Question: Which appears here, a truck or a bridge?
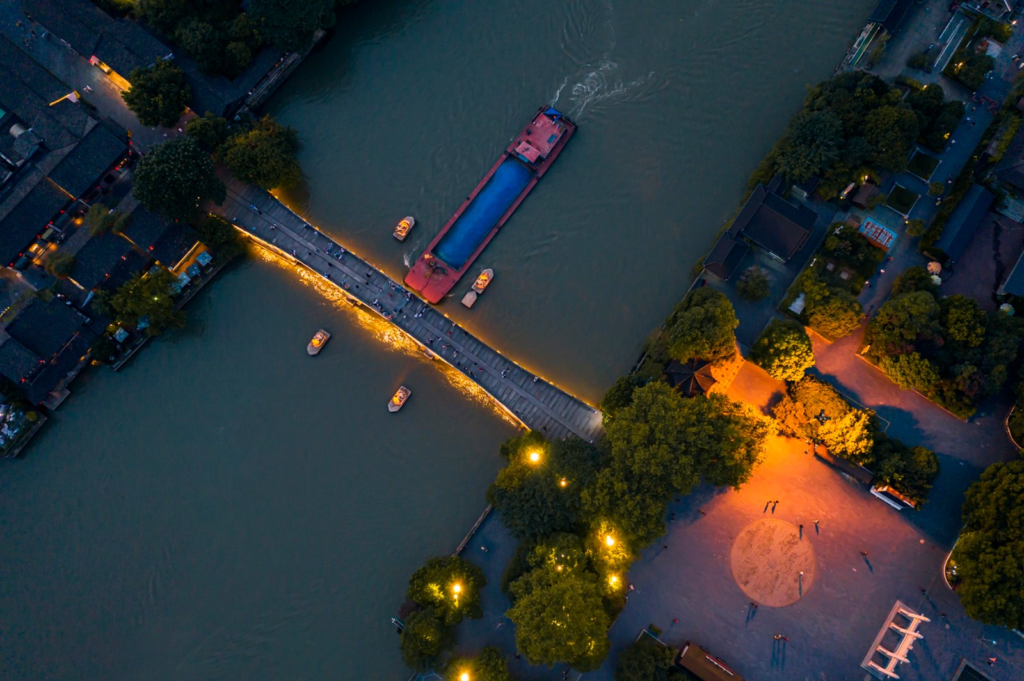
bridge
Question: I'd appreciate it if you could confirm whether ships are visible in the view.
Yes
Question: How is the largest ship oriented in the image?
diagonally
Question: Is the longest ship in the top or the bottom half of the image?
top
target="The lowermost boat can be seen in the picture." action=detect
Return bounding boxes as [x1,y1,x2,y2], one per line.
[389,383,412,412]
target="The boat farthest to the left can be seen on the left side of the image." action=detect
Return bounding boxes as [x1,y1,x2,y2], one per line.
[308,327,331,356]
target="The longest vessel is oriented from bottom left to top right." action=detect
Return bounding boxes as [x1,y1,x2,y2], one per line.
[407,105,577,301]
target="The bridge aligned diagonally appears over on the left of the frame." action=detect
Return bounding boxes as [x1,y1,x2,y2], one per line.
[208,167,609,465]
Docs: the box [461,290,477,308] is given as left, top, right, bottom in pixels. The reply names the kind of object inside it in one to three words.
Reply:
boat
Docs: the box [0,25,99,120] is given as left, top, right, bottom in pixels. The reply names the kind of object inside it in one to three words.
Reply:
house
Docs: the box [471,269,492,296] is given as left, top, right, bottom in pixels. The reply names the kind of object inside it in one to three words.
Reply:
boat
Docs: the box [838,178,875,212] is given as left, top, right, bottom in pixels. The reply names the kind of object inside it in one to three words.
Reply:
building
